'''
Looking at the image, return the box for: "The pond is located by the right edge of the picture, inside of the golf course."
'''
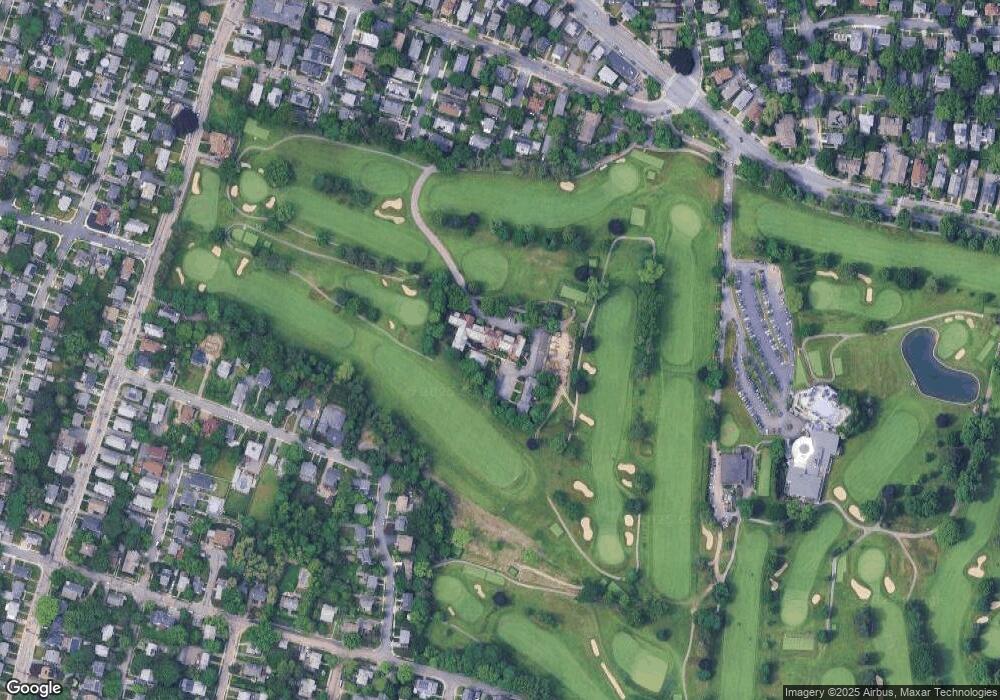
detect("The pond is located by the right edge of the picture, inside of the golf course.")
[902,327,979,404]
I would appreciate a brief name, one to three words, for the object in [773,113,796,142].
building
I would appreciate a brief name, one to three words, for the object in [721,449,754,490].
shed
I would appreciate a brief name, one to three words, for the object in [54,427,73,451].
house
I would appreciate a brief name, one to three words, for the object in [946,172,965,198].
house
